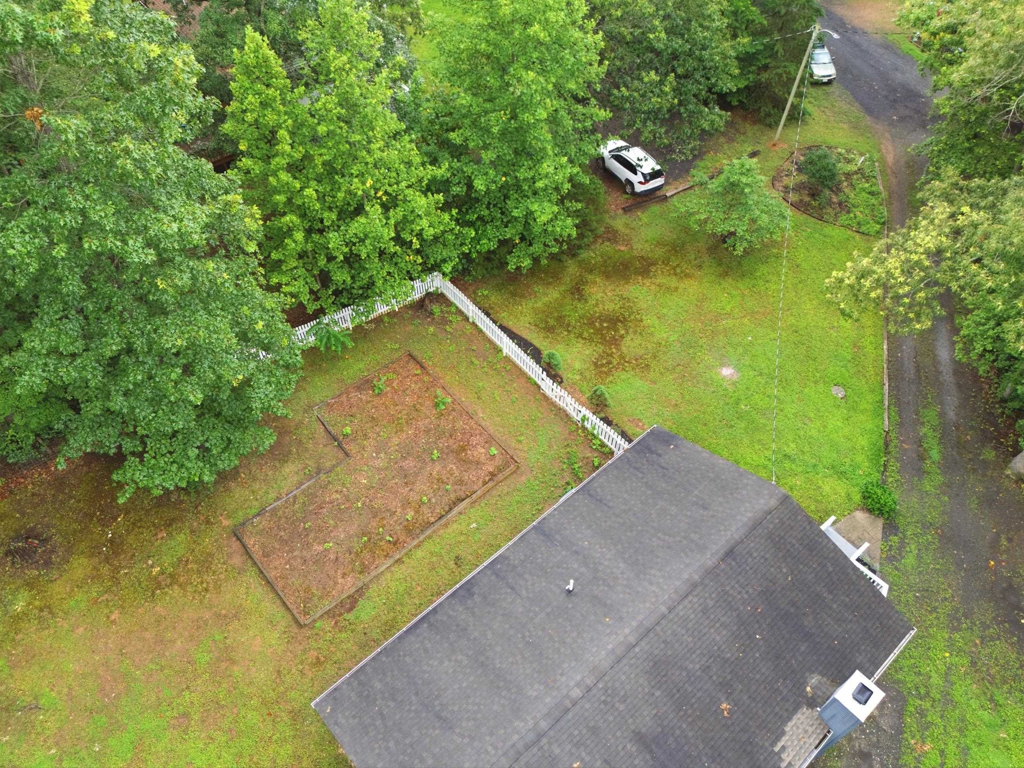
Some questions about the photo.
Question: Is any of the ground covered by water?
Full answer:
No, the scene doesn't show any water.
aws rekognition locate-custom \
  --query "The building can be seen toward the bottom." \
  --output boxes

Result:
[310,423,917,768]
